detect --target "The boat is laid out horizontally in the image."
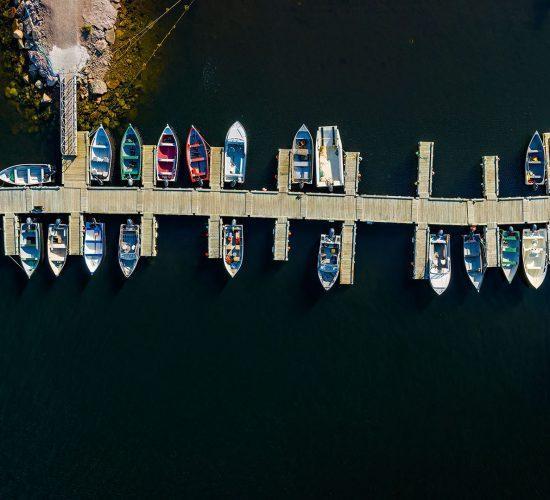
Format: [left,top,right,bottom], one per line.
[0,164,60,186]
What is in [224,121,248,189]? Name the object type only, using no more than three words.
boat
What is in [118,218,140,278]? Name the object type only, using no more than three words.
boat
